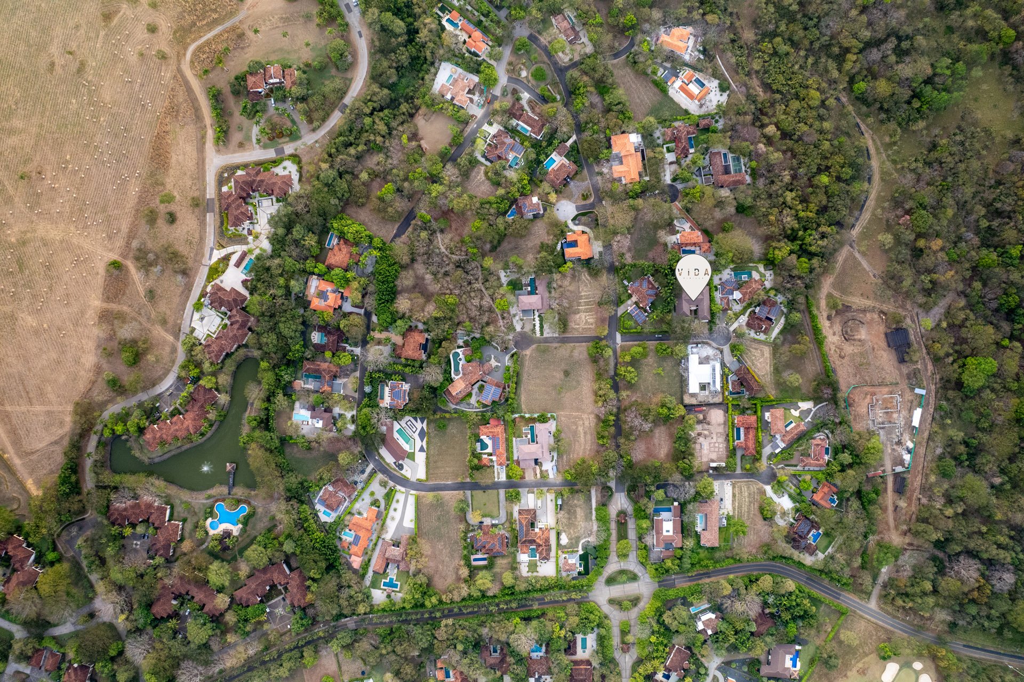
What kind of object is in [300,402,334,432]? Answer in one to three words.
house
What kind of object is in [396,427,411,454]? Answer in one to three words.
swimming pool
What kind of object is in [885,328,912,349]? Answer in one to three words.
shed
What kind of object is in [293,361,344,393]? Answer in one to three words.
house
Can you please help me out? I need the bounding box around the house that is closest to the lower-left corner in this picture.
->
[31,649,63,670]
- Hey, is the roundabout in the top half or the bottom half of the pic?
bottom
